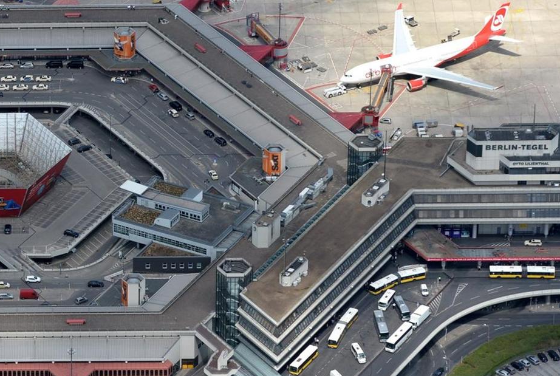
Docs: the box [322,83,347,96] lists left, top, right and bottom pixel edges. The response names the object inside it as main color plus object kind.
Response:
white vehicle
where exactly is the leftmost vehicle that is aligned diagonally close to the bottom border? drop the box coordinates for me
[289,342,319,371]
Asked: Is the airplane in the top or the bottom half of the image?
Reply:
top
